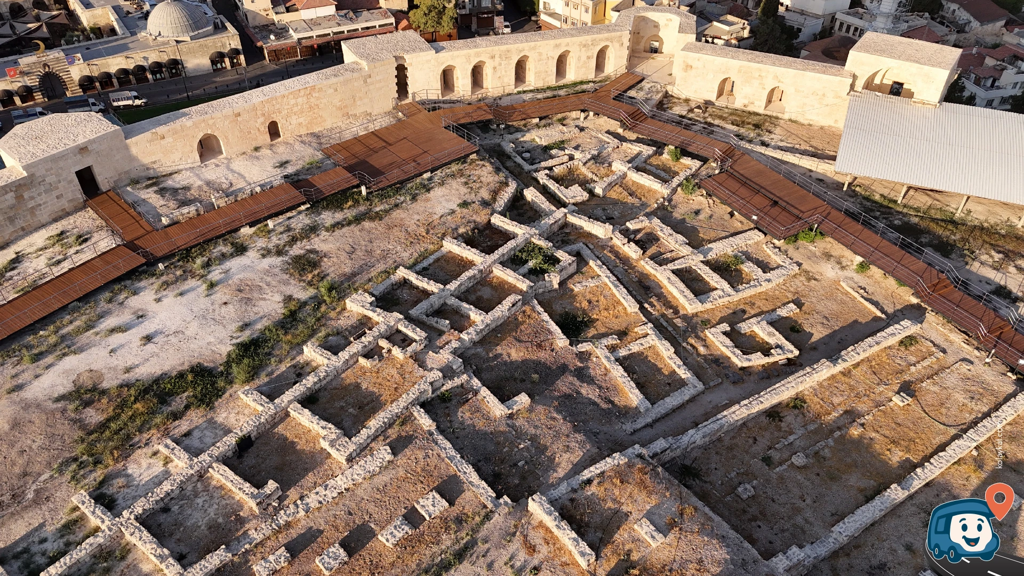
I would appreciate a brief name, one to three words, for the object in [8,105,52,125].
vehicle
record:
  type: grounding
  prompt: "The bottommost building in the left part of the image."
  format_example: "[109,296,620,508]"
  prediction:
[0,112,138,222]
